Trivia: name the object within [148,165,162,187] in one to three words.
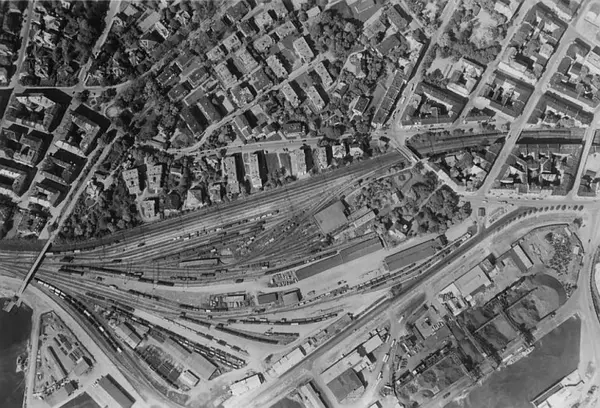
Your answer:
building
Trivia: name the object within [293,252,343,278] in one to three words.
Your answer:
building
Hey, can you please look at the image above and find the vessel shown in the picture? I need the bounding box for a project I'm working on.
[509,347,536,366]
